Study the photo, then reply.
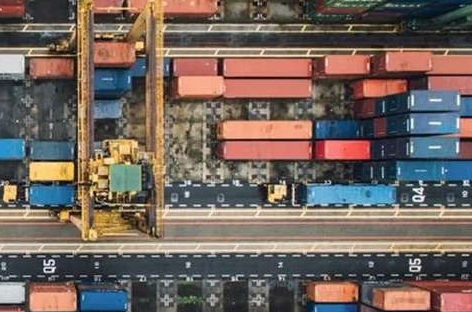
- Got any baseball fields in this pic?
No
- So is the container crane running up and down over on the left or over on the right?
left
